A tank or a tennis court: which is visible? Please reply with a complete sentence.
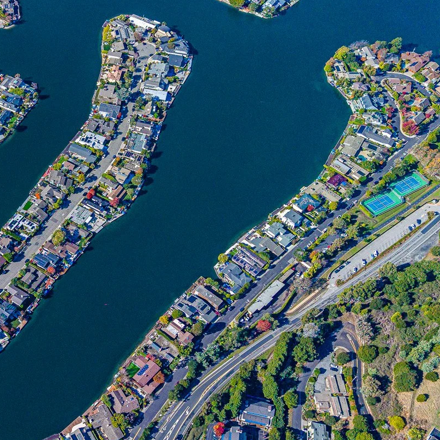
Looking from above, you can make out a tennis court.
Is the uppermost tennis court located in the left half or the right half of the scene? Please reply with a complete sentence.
The uppermost tennis court sits on the right side.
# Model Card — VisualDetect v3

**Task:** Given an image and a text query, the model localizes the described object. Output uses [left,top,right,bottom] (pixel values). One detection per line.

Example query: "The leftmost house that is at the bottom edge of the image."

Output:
[67,424,92,440]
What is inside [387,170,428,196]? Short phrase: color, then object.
blue tennis court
